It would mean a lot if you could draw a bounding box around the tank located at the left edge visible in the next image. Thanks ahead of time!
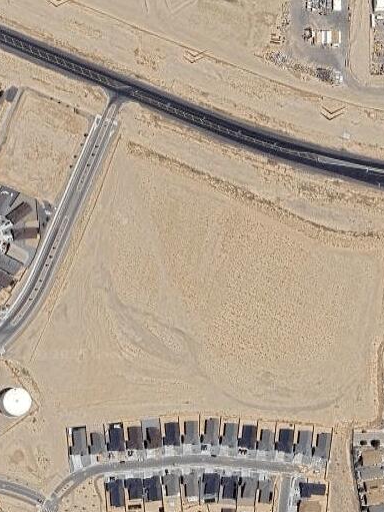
[1,387,31,416]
